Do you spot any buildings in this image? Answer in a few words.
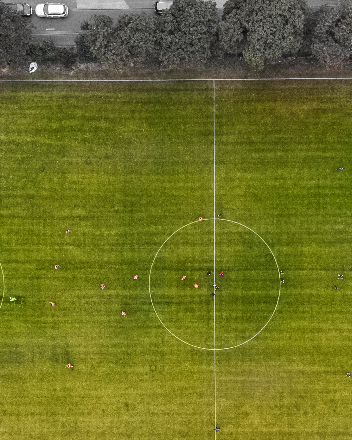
No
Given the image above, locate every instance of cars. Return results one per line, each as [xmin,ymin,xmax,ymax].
[5,1,33,18]
[35,1,67,18]
[155,2,173,17]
